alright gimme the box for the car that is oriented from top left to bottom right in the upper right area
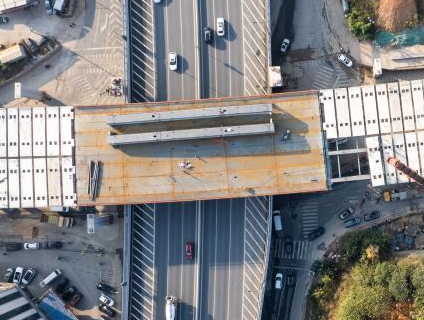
[336,52,353,68]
